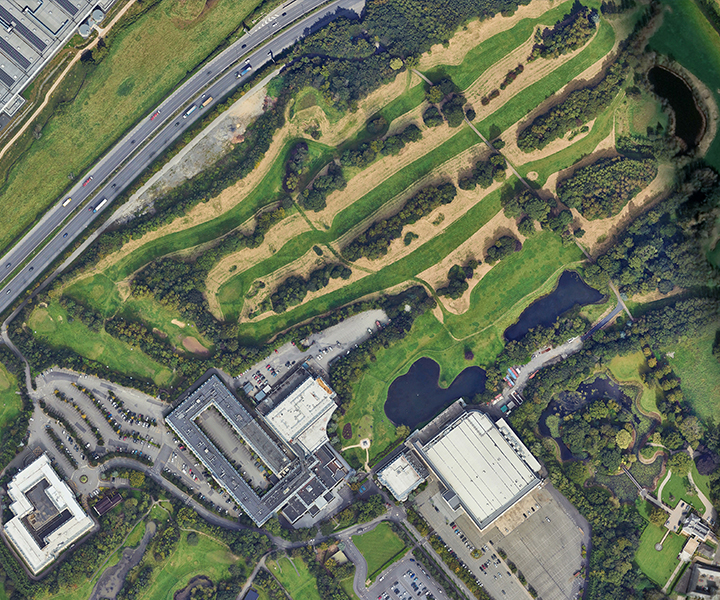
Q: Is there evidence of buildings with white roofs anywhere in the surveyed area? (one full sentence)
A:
Yes, the picture does show a building with a white roof.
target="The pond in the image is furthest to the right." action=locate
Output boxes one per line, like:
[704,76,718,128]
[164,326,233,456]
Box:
[647,65,705,152]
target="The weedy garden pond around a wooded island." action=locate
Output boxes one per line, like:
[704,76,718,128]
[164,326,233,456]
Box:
[540,370,664,504]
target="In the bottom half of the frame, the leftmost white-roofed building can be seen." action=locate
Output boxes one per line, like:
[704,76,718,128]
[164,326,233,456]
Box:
[4,453,95,575]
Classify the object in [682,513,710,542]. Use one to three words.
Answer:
house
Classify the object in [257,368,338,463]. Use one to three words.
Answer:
building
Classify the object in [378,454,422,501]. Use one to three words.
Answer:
building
